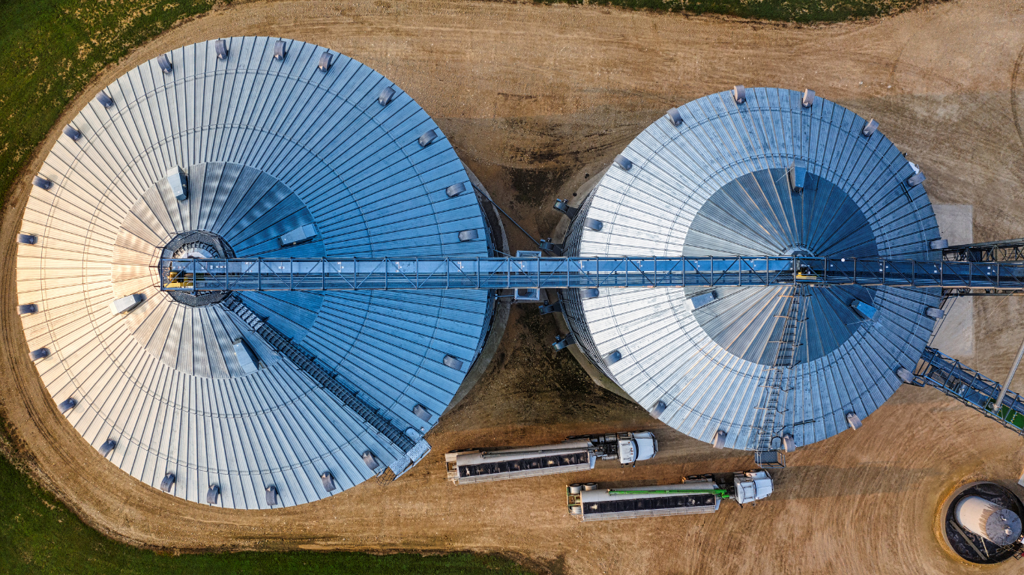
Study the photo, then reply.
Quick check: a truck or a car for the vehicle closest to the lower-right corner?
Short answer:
truck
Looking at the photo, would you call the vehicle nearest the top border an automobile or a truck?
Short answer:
truck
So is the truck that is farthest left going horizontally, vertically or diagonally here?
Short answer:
horizontally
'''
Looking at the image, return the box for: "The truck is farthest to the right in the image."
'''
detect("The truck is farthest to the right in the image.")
[564,471,778,521]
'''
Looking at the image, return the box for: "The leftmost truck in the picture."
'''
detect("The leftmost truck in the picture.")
[440,429,659,484]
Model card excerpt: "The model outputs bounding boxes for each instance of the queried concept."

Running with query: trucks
[564,471,778,521]
[440,429,659,484]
